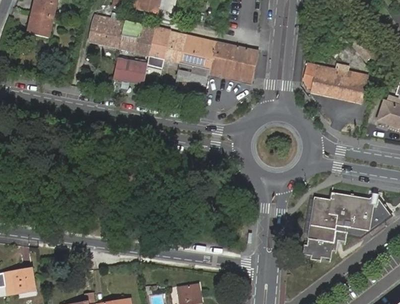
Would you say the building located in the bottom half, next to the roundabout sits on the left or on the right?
right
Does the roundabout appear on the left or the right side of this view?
right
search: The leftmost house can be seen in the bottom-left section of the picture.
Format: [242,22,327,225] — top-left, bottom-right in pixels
[0,267,36,297]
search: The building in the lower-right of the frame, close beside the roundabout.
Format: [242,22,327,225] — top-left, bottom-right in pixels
[303,192,390,262]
